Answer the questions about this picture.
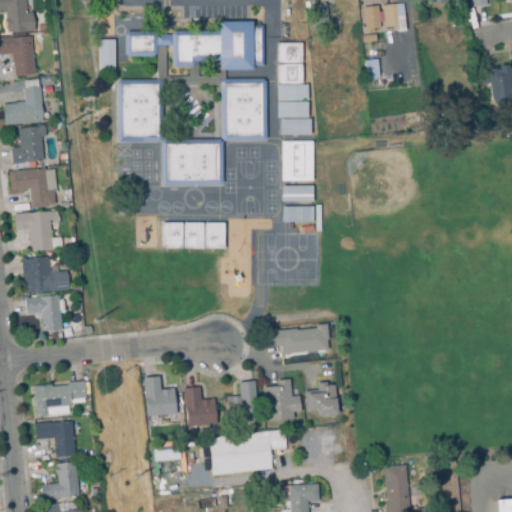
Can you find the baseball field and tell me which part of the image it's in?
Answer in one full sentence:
The baseball field is in the right part of the image.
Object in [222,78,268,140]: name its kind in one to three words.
building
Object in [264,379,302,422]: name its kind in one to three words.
house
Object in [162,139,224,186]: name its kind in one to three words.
building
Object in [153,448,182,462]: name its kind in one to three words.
shed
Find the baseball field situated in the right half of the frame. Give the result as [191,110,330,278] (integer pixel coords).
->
[350,144,512,451]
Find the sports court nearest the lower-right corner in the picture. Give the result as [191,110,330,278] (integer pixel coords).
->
[257,228,320,286]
